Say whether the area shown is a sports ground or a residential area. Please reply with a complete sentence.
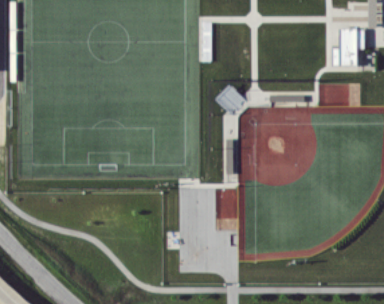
The area seen from above is a sports ground.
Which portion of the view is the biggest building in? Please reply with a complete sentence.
Look in the top right portion of the view to spot the biggest building.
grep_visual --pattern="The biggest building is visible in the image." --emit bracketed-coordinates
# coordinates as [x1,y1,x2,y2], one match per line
[340,28,359,66]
